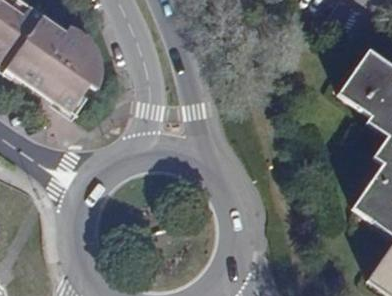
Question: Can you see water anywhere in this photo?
No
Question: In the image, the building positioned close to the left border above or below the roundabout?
above it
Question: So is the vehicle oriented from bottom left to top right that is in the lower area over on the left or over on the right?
left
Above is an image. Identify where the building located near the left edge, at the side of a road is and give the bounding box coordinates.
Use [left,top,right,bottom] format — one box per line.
[0,0,104,126]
